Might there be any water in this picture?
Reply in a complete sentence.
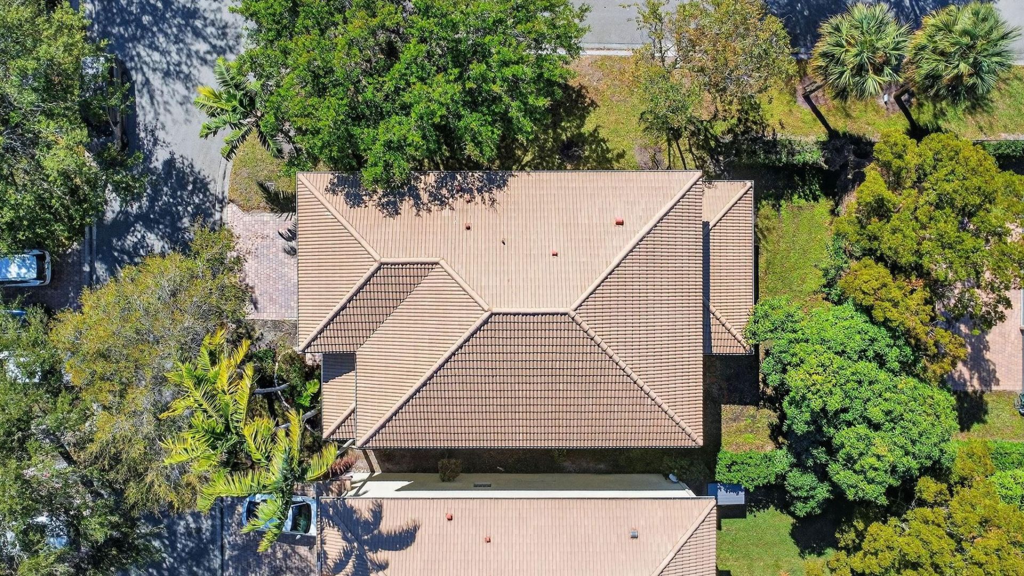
No, the picture contains no water.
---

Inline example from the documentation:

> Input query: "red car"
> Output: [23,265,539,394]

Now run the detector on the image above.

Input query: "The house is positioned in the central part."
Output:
[293,169,755,450]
